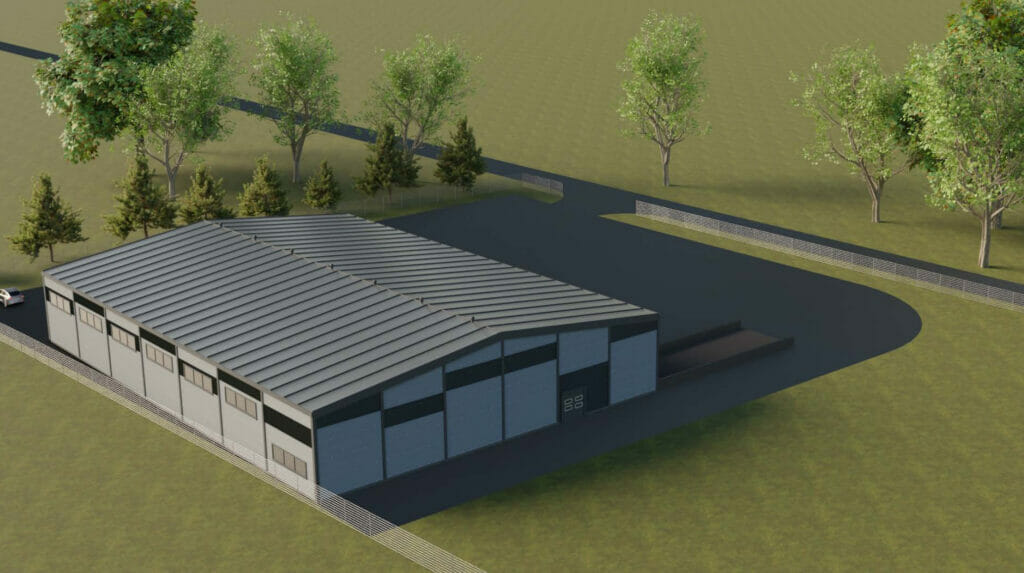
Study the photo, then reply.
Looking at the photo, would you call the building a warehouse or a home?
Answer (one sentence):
What you see as the building is a warehouse.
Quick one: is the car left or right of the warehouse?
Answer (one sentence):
Looking at the photo, the car lies to the left of the warehouse.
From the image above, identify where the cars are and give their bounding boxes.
[0,286,23,308]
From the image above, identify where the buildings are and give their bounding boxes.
[41,213,661,502]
